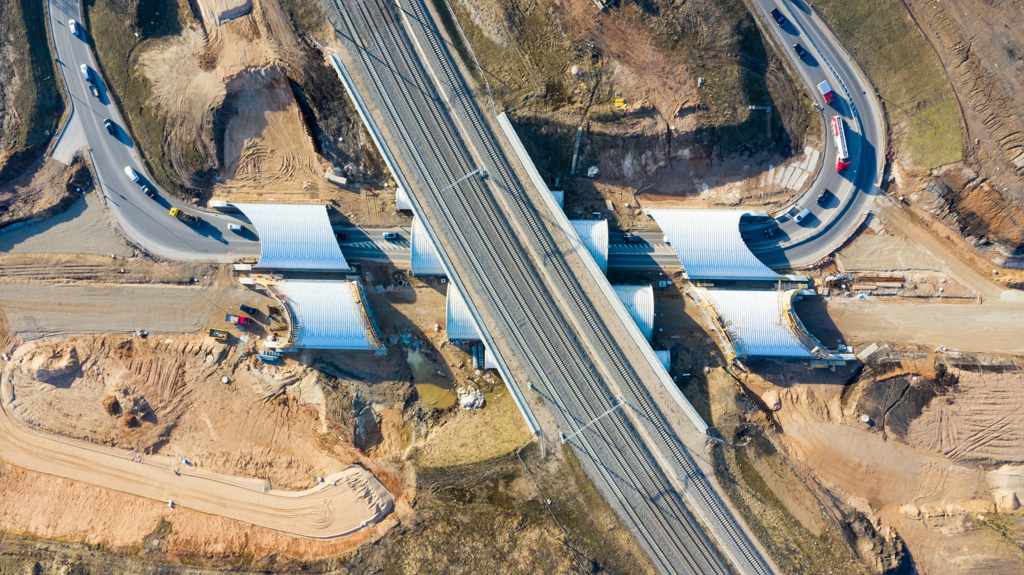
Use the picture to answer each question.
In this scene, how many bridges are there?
four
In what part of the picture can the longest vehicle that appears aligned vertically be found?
top right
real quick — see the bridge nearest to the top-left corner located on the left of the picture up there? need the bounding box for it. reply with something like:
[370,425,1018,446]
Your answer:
[228,201,355,274]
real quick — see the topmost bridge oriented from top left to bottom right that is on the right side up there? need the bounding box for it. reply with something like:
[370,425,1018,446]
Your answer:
[646,208,791,281]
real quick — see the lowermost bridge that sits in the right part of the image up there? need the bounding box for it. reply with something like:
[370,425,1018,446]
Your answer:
[706,289,818,359]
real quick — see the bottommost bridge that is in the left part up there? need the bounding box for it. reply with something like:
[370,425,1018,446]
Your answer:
[276,278,381,352]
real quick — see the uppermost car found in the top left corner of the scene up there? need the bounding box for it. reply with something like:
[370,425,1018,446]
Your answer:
[68,20,80,36]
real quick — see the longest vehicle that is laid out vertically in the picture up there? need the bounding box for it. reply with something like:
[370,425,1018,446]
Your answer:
[829,115,849,171]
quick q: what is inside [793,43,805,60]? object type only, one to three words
vehicle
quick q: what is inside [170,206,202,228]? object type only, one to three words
truck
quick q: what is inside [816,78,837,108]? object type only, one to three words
truck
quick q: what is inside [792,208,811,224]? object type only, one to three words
vehicle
